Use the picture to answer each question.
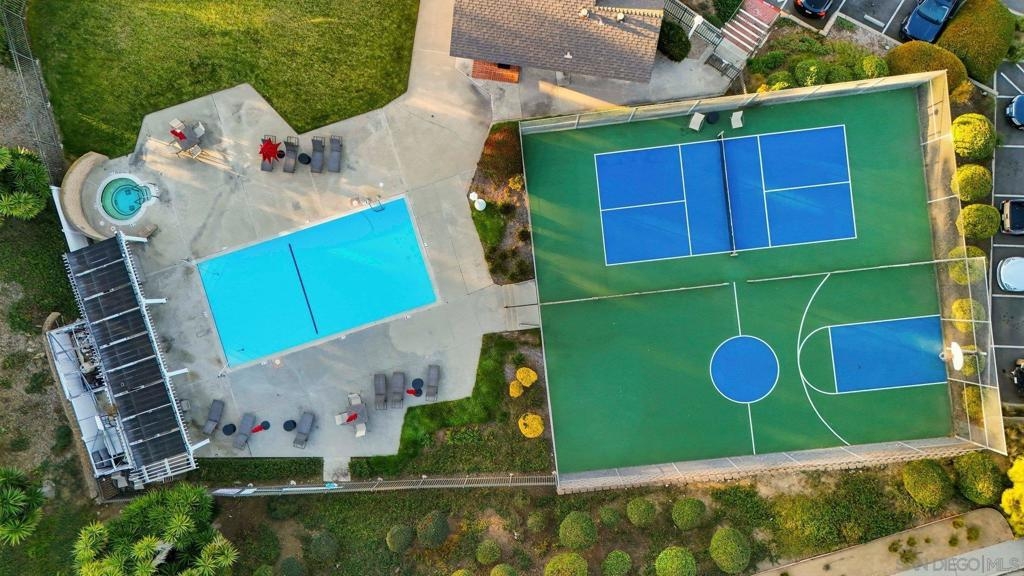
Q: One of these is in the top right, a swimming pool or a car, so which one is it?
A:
car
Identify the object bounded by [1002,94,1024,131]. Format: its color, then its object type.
blue car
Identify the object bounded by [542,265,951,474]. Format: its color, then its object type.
green basketball court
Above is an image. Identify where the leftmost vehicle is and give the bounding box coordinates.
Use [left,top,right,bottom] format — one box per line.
[792,0,833,22]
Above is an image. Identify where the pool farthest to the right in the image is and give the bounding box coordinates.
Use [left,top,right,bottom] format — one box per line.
[183,182,442,377]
